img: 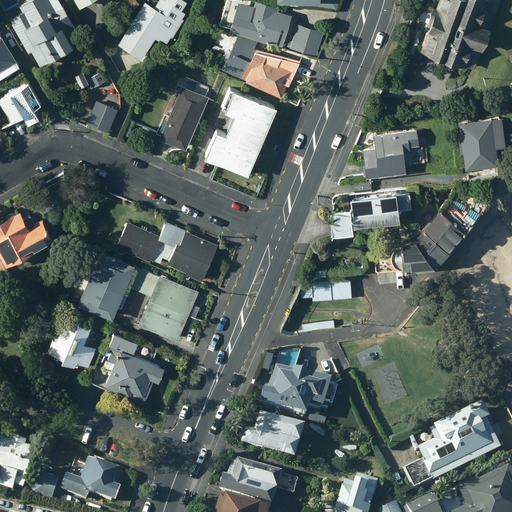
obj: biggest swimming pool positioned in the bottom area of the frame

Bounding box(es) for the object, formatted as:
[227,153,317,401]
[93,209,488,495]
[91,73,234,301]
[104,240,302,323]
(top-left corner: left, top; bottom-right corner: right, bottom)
[276,348,300,366]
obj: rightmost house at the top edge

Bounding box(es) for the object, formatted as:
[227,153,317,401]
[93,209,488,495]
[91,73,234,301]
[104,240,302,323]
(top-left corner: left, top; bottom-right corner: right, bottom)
[421,0,500,72]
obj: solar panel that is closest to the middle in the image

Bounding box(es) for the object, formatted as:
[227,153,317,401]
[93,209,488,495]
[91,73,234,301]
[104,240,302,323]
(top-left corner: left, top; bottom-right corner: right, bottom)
[352,201,373,216]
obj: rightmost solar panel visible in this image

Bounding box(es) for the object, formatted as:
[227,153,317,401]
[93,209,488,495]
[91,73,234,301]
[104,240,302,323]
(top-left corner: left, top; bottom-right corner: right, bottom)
[381,198,397,213]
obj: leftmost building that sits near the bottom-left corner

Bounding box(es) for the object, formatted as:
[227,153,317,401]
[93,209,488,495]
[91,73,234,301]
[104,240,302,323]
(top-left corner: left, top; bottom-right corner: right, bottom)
[0,431,30,488]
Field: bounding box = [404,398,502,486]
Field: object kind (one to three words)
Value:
house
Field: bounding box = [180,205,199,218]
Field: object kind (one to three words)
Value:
vehicle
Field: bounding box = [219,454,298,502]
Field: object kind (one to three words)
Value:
house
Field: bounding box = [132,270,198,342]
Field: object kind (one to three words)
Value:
building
